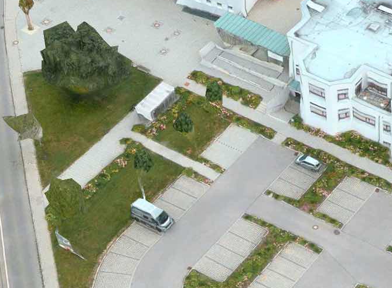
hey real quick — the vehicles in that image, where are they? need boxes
[291,154,326,175]
[127,197,176,234]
